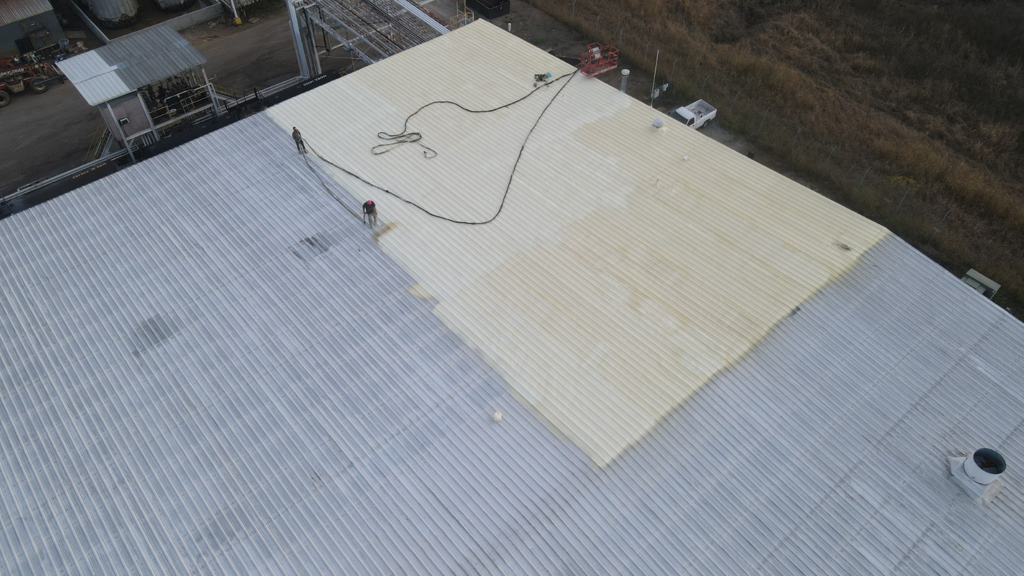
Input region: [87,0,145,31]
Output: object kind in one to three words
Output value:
storage tank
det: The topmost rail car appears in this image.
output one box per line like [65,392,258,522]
[146,69,340,157]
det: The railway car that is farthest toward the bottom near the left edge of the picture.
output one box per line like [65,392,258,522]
[0,158,128,219]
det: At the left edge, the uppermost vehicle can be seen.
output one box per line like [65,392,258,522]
[0,55,65,107]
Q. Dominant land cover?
buildings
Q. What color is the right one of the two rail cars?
black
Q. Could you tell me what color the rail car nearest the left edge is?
black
